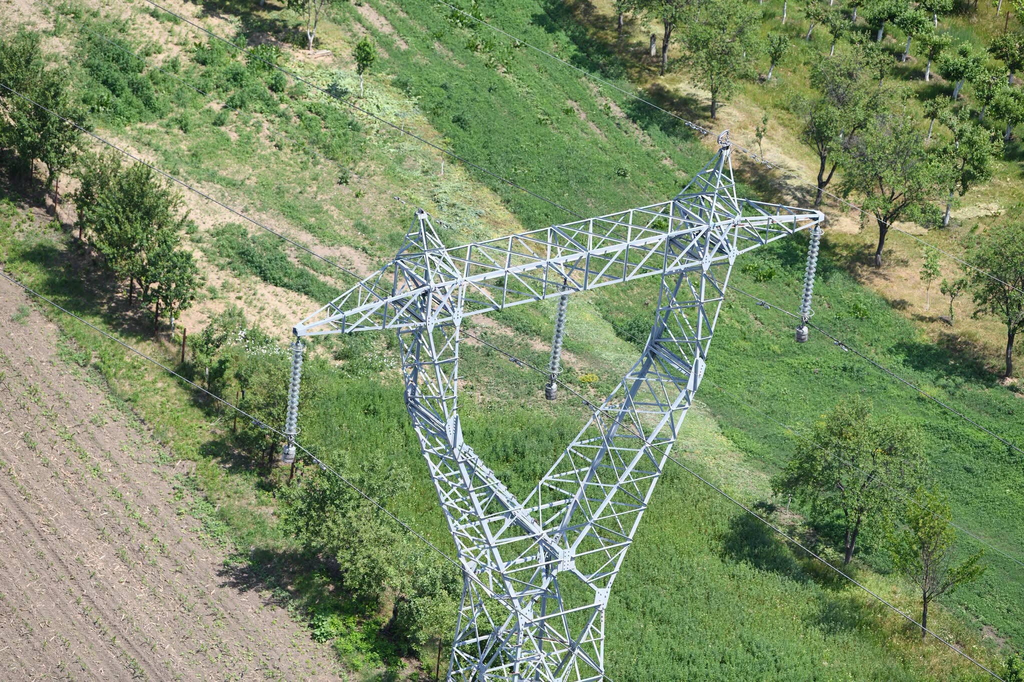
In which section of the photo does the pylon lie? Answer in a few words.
center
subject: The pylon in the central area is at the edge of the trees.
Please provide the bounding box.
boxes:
[292,139,826,682]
